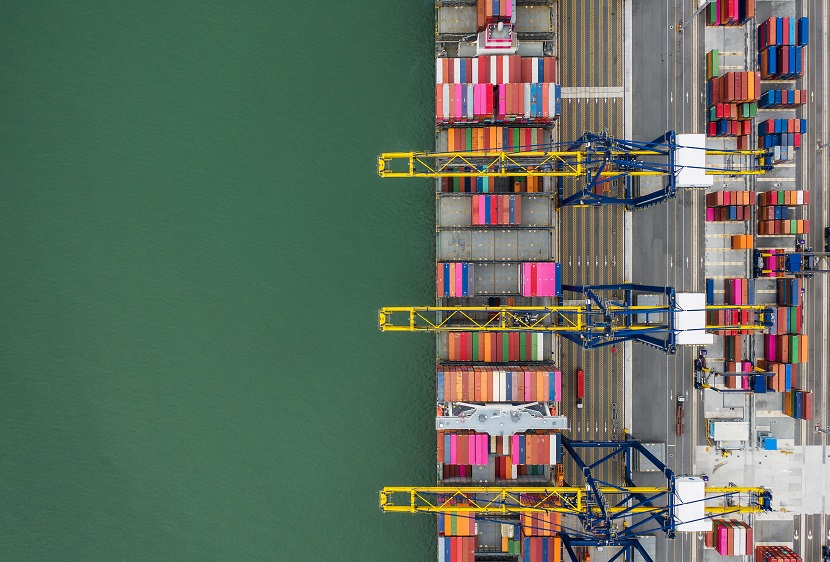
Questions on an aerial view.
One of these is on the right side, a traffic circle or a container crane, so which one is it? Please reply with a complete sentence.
Visible on the right side is a container crane.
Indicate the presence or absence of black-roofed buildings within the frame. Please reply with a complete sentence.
No, the scene contains no black-roofed building.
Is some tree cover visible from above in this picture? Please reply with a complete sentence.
No, no tree cover is visible.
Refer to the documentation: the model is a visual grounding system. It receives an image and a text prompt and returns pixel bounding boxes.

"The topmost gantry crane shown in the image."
[375,127,779,213]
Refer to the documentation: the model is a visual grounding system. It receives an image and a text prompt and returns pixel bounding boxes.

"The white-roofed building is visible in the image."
[700,414,749,448]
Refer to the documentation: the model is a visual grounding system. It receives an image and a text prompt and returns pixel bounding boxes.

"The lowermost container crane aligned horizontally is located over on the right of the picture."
[561,525,654,562]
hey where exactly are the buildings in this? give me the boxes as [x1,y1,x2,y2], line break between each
[760,436,777,449]
[700,414,749,448]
